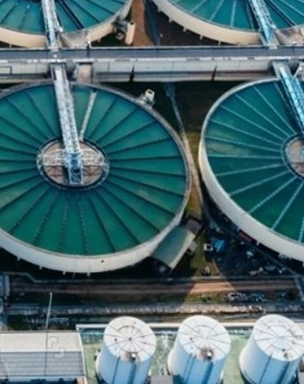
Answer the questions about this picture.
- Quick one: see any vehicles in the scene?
No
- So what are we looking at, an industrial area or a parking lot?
industrial area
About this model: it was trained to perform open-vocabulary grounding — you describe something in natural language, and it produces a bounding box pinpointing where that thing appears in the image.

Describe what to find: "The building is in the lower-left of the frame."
[0,330,88,384]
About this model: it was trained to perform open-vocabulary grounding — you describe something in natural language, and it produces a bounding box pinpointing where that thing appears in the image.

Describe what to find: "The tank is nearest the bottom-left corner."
[99,322,153,384]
